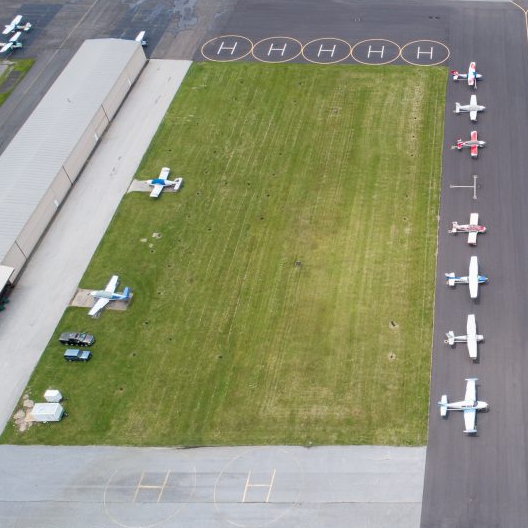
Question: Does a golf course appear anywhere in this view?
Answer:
No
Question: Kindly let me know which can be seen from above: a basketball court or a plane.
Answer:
plane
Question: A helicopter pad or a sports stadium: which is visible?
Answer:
helicopter pad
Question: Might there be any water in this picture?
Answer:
No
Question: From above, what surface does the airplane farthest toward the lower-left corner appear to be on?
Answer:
grass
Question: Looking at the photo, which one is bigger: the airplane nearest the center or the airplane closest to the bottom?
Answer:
the airplane closest to the bottom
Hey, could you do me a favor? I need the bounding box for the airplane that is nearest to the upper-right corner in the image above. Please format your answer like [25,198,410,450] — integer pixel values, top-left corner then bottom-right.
[452,62,483,84]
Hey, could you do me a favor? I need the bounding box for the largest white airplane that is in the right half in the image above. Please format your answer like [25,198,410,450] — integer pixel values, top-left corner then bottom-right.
[440,379,488,431]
